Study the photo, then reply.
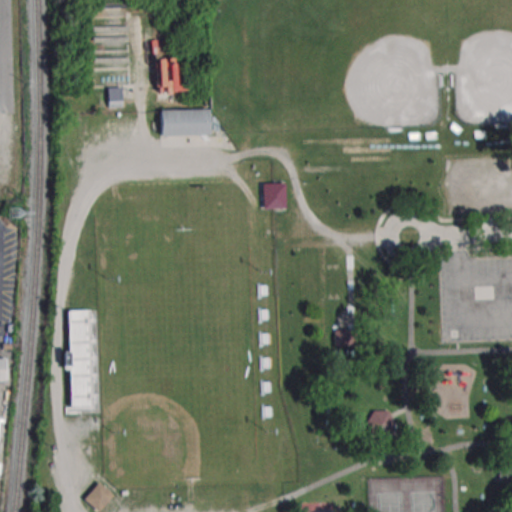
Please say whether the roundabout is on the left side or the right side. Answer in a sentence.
It is on the right.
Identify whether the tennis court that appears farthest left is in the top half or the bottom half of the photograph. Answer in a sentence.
It is in the bottom half that the tennis court that appears farthest left appears.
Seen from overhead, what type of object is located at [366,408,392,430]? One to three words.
building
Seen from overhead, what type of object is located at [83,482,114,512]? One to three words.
building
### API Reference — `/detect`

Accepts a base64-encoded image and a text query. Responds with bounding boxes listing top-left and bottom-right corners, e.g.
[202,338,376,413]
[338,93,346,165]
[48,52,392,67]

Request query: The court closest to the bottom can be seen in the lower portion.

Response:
[370,478,442,512]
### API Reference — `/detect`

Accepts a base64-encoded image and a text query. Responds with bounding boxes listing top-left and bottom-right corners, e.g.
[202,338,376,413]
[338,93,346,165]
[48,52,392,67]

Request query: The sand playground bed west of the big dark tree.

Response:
[437,364,476,419]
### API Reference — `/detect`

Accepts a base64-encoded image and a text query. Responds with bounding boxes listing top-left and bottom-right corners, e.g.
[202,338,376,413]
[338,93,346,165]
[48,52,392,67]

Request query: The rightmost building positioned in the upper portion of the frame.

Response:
[262,184,286,212]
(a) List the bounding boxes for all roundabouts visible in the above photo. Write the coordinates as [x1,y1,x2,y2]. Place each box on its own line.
[376,204,512,268]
